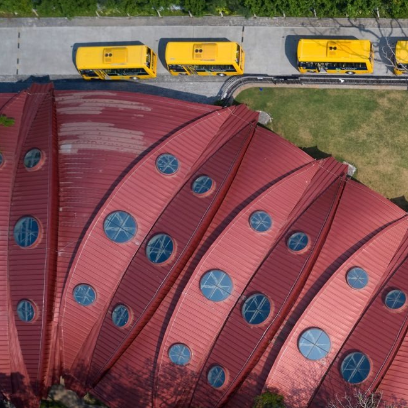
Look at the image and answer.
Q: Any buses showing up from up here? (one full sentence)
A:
Yes, looking at the shot, I can spot a bus.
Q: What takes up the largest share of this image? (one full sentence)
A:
The scene is dominated by buildings.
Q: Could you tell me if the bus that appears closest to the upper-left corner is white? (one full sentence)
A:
No, the bus that appears closest to the upper-left corner is actually yellow.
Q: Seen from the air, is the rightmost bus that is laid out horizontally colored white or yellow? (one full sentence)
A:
From above, the rightmost bus that is laid out horizontally appears yellow.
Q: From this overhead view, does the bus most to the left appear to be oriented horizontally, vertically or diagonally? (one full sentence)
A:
What the image shows is the bus most to the left lying horizontally.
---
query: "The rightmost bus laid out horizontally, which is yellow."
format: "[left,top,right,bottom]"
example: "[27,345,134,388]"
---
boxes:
[293,39,376,74]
